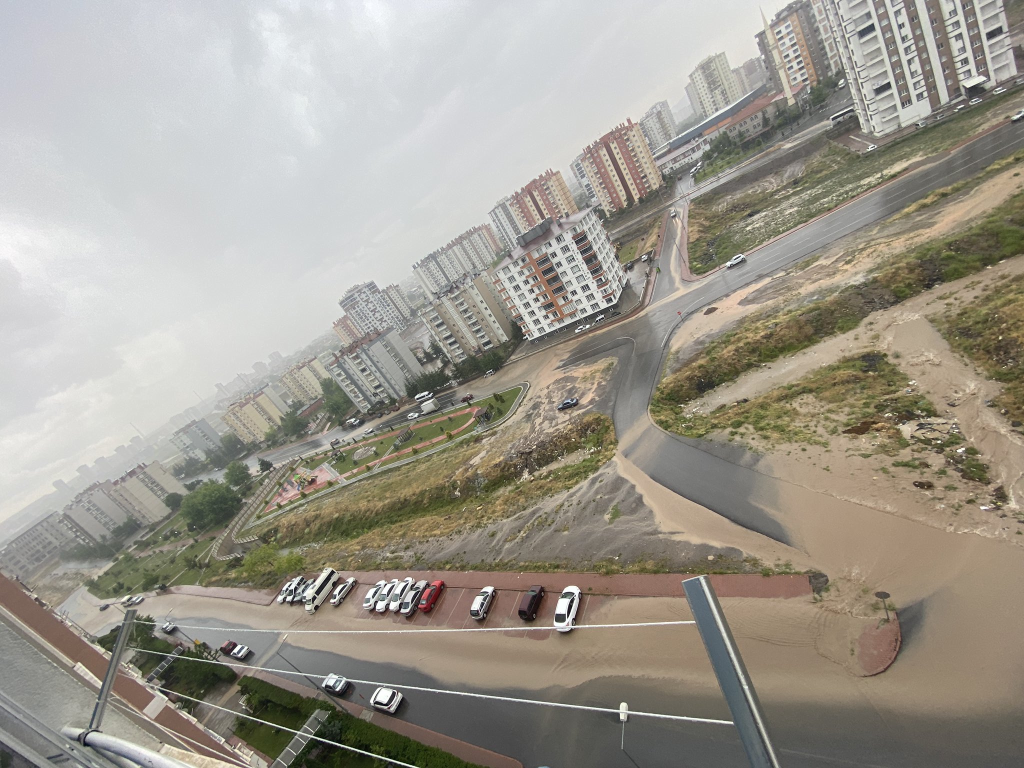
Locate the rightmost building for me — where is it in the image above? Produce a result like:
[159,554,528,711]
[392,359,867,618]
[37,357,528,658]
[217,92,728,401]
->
[841,0,1019,136]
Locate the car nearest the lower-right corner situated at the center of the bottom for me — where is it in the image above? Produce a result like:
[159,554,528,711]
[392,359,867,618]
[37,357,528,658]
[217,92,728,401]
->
[554,585,581,632]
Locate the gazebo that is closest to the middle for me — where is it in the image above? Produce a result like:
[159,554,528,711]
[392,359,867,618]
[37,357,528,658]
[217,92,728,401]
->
[467,404,496,428]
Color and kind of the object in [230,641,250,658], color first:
white car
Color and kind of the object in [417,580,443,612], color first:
red car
